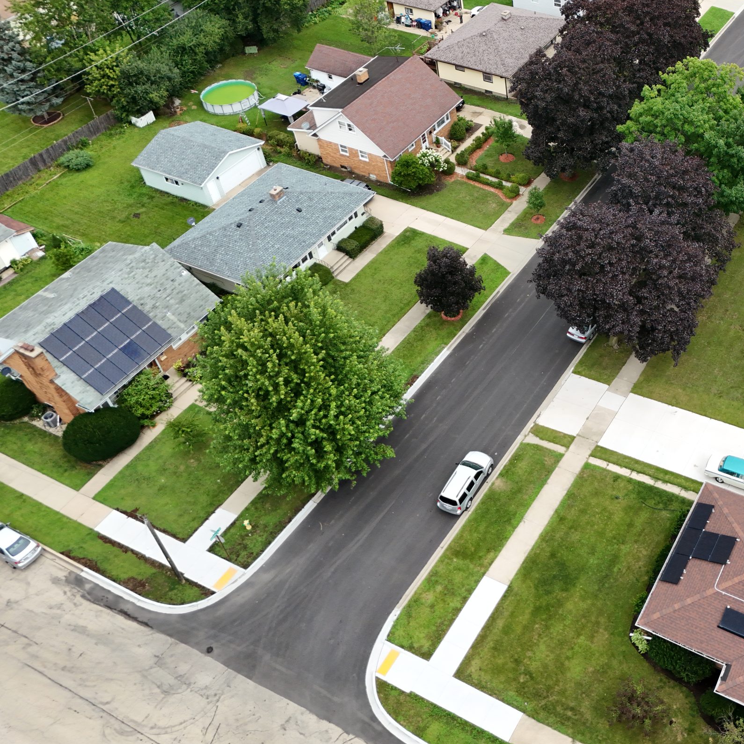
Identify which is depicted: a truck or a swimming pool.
swimming pool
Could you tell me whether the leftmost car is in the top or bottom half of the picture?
bottom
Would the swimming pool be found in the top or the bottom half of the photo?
top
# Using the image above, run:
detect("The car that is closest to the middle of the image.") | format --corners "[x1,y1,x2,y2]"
[433,450,494,516]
